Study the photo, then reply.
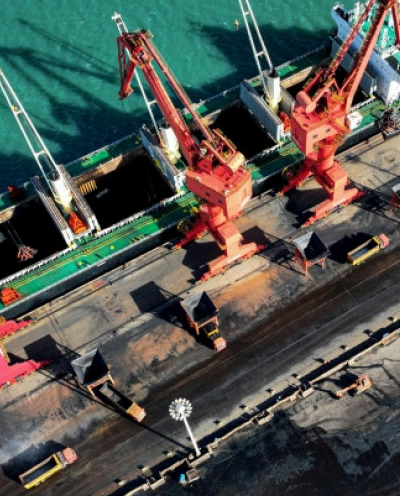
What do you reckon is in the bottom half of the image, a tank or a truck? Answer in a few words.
truck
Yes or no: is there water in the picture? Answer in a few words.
Yes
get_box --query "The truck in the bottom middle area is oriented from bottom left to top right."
[180,468,201,490]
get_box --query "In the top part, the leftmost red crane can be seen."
[117,22,270,283]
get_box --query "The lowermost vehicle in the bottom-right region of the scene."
[338,371,375,401]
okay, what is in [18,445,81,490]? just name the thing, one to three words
truck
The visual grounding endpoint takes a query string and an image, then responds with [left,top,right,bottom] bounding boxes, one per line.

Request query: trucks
[18,445,81,490]
[180,468,201,490]
[345,233,390,268]
[97,378,152,426]
[198,317,228,356]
